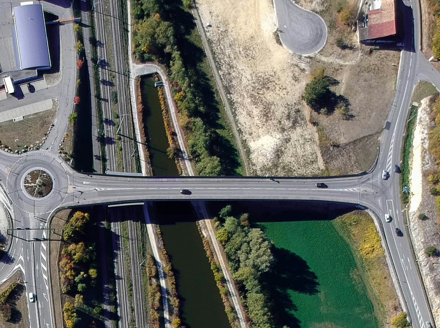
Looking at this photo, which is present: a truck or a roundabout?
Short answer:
roundabout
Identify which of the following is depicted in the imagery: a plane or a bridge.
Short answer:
bridge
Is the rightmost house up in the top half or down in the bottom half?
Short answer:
top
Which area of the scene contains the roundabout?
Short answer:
left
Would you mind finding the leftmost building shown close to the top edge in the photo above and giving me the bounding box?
[11,2,53,75]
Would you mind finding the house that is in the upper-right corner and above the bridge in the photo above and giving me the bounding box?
[353,0,395,47]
